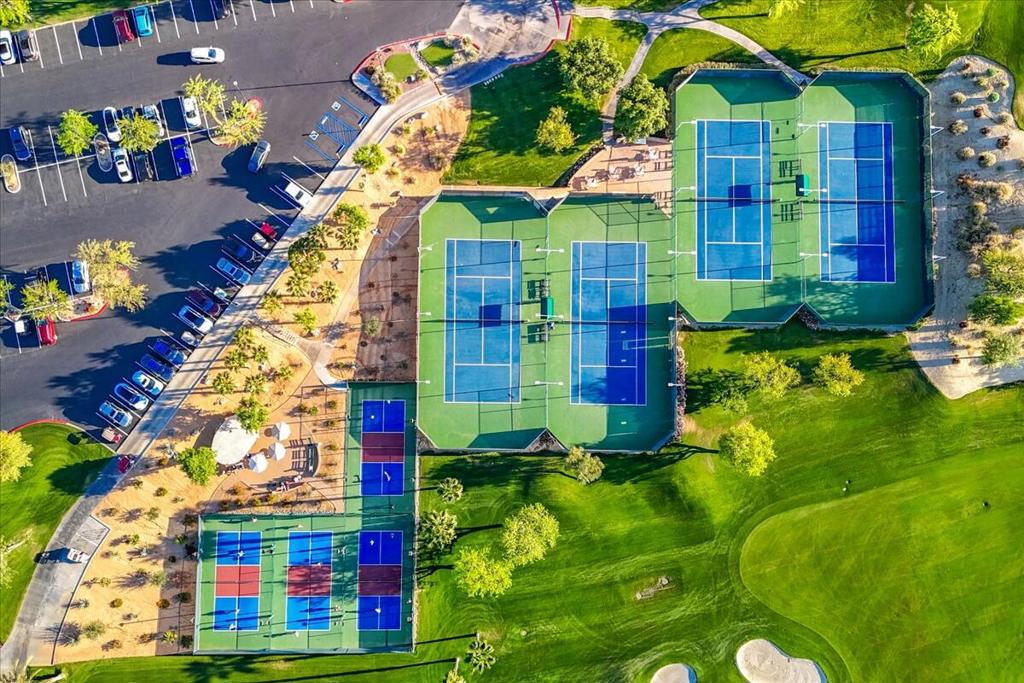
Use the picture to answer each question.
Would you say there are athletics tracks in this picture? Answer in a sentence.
No, I can see no athletics track in this picture.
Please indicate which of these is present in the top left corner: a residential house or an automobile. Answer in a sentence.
You can see an automobile in the top left corner.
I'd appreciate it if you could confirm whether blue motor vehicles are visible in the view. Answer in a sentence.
Yes, there's a blue motor vehicle here.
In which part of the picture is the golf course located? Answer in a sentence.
Look in the bottom right portion of the view to spot the golf course.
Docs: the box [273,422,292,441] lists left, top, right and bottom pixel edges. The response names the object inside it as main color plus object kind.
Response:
white umbrella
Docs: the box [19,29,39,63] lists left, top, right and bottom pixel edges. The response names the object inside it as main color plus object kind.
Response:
gray car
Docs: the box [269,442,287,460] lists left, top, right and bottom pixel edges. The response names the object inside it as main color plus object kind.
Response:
white umbrella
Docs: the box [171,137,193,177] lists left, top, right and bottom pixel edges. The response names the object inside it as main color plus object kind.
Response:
blue truck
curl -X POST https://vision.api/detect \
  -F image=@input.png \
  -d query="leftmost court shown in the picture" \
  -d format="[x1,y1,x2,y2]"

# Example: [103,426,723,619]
[200,514,274,648]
